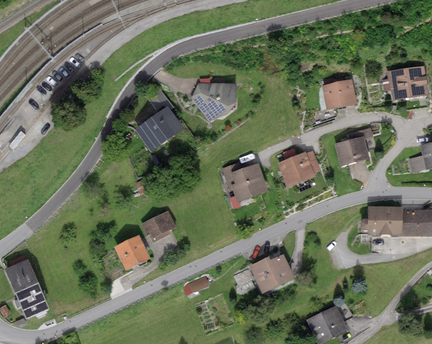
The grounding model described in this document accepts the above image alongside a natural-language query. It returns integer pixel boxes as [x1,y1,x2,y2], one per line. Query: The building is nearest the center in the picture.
[220,164,268,202]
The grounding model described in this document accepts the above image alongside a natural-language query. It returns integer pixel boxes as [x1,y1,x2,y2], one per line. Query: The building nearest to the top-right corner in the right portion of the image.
[382,66,428,102]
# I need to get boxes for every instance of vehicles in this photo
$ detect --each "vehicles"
[326,240,337,250]
[372,239,384,244]
[416,137,428,142]
[45,320,56,326]
[74,53,84,62]
[252,247,259,258]
[69,56,80,67]
[63,62,74,72]
[51,71,62,81]
[40,124,50,134]
[340,333,350,341]
[239,154,254,162]
[58,66,69,77]
[40,81,52,91]
[28,98,38,108]
[36,86,46,94]
[46,76,56,86]
[264,242,269,252]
